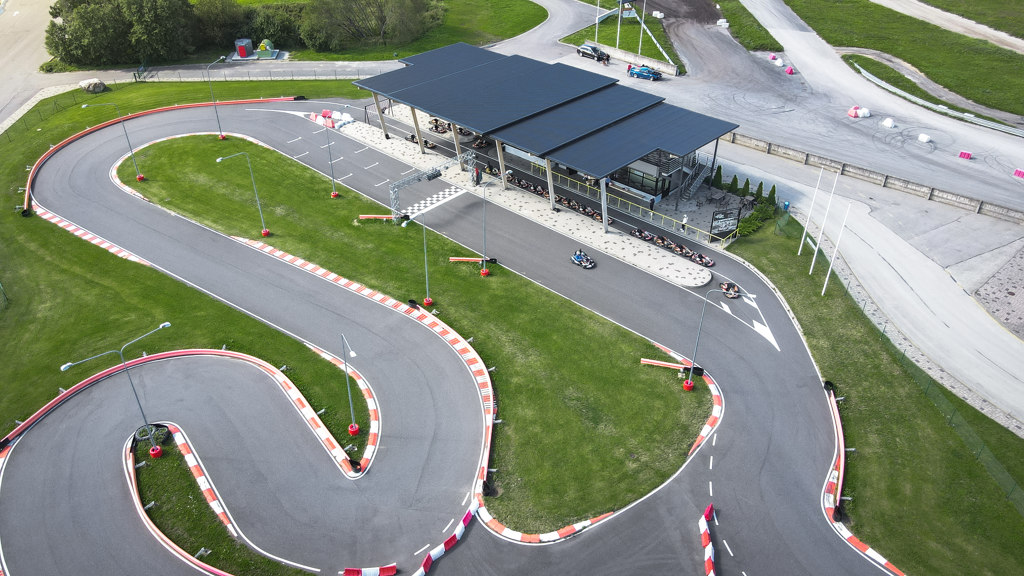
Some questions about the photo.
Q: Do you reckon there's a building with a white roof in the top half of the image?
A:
No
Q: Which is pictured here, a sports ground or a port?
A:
sports ground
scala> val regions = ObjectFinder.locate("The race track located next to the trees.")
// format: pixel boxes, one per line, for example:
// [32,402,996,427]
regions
[0,95,900,576]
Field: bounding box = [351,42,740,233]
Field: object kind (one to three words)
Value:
building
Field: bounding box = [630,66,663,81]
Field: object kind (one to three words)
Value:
car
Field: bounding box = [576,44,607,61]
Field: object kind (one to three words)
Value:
car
